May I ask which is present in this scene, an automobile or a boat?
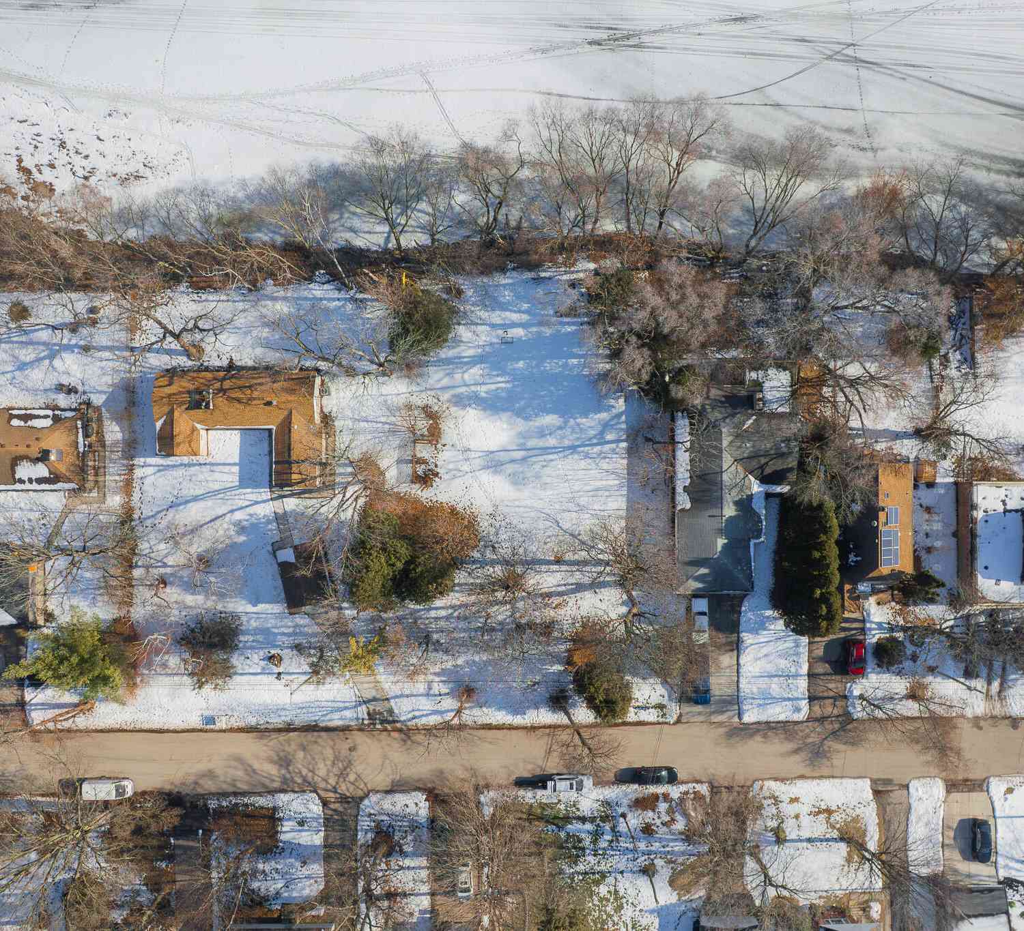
automobile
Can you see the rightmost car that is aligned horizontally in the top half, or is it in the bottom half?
bottom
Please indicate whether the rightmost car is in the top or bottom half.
bottom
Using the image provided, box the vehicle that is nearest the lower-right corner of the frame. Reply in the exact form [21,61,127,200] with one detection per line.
[966,818,989,861]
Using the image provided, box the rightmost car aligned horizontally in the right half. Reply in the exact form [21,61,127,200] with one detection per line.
[634,765,677,786]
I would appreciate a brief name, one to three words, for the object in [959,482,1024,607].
house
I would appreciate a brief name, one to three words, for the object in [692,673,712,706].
car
